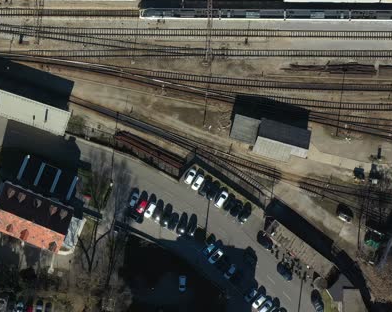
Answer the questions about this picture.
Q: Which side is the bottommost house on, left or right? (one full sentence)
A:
You can find the bottommost house on the right side of the picture.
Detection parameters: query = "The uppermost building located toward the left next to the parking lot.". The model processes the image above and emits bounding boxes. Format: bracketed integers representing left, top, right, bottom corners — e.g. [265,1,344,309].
[0,89,71,136]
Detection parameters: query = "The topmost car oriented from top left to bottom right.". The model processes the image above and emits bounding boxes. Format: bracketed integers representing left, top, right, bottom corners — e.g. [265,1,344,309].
[339,207,352,224]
